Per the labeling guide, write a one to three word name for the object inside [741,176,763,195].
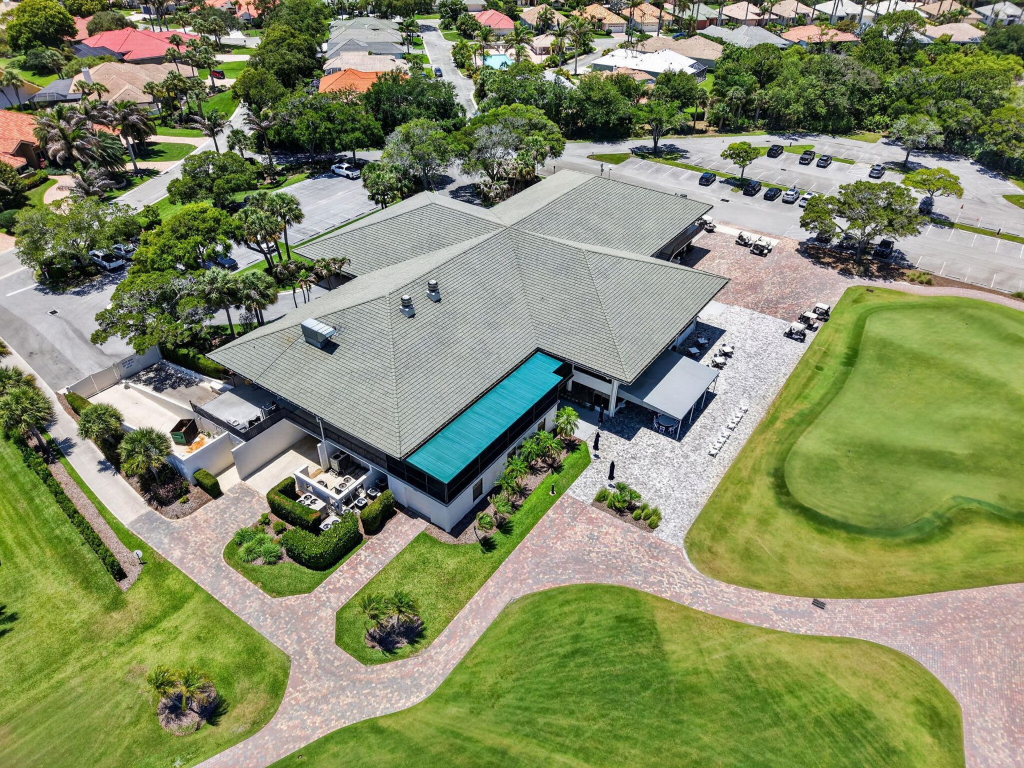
car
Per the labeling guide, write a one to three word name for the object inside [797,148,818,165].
vehicle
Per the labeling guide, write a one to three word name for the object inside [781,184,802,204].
car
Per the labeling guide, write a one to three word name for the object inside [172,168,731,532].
building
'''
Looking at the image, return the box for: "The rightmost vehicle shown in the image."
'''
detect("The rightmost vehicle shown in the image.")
[917,196,937,213]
